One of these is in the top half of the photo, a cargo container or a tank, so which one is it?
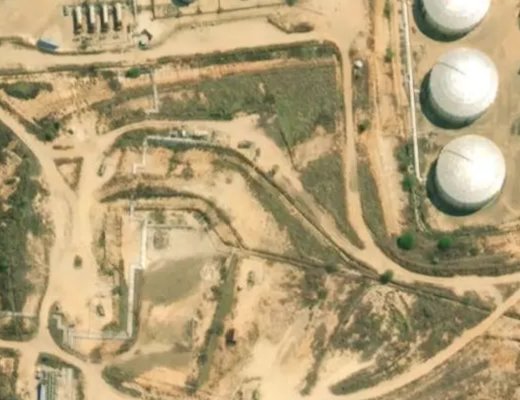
tank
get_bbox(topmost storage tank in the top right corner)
[415,0,492,41]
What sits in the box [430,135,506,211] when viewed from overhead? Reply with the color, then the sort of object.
white storage tank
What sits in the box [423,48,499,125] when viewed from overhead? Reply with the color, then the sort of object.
white storage tank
